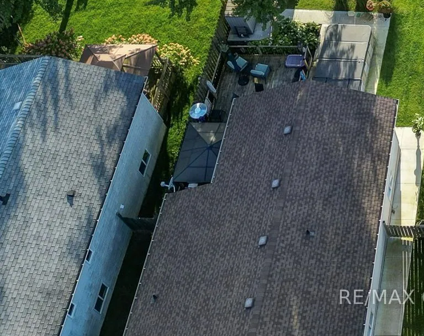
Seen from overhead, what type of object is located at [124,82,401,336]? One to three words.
house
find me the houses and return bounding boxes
[0,56,167,336]
[124,82,401,336]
